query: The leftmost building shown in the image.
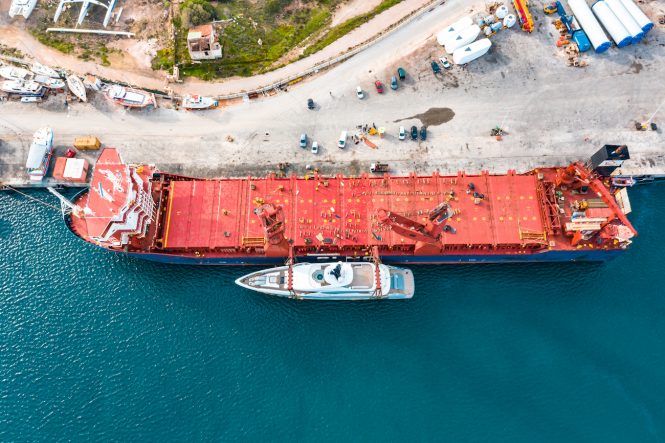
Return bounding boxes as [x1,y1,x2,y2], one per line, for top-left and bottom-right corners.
[186,27,222,60]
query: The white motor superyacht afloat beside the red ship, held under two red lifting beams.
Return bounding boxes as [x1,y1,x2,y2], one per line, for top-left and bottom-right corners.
[232,259,416,299]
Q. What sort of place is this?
port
